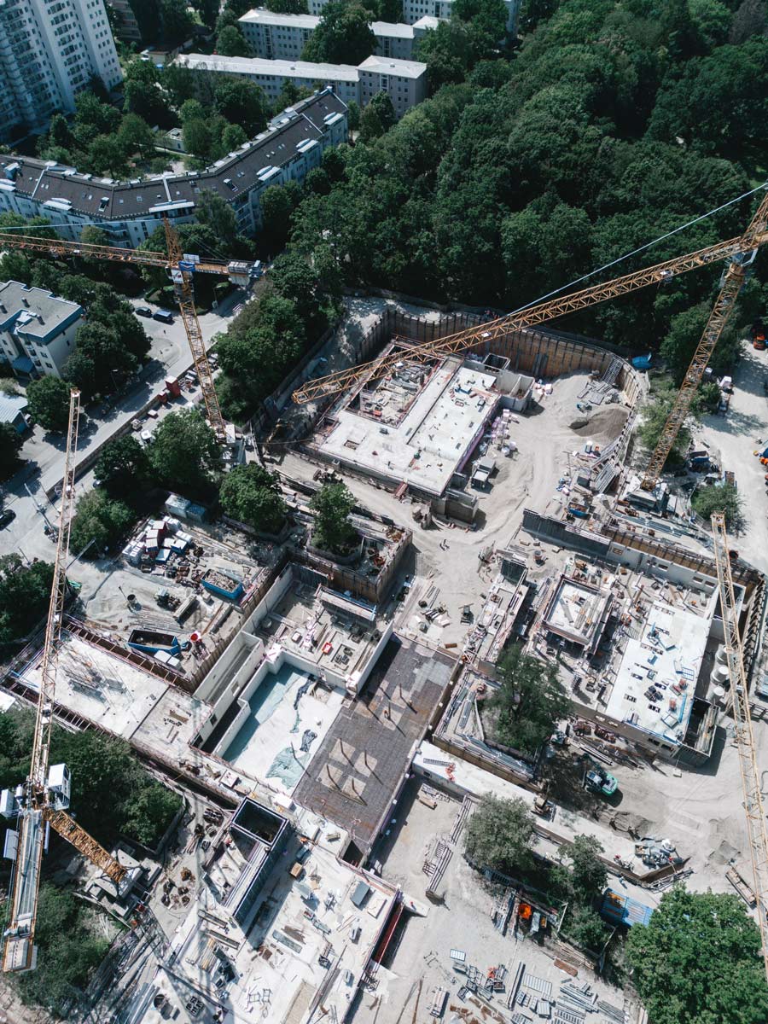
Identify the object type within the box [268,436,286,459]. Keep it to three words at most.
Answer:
work vehicle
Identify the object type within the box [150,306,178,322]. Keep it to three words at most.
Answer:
vehicle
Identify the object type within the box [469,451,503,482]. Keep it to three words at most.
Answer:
truck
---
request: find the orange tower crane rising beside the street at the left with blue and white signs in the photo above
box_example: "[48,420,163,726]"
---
[0,208,266,445]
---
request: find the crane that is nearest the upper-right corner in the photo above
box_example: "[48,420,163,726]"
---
[286,166,768,503]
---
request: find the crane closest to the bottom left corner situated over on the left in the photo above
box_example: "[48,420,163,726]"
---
[2,388,148,976]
